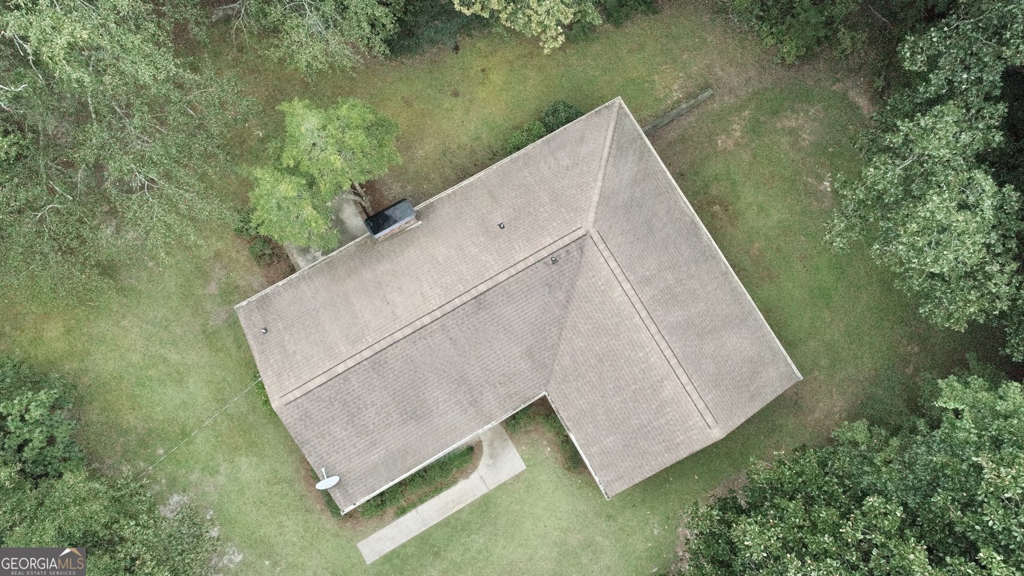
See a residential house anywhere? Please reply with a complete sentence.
Yes, I can see a residential house in this picture.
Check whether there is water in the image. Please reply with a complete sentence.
No, no water is visible.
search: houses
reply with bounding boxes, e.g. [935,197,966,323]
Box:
[235,98,801,514]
